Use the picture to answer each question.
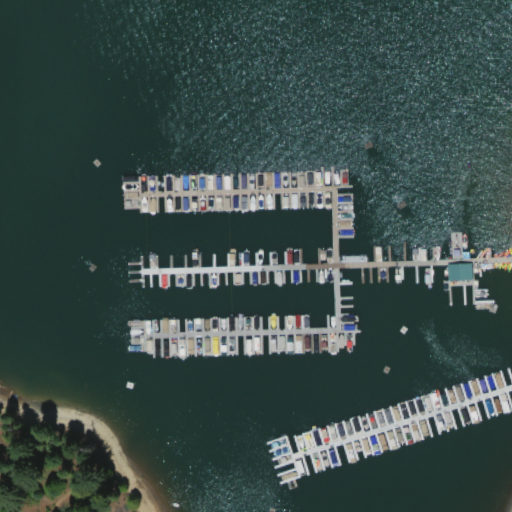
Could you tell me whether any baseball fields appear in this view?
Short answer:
No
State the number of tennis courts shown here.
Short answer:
0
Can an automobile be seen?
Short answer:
No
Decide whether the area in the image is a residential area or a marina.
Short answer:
marina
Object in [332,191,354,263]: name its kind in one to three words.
pier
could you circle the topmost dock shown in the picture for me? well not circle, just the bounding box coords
[124,166,354,213]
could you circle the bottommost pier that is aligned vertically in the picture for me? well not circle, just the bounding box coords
[334,268,358,328]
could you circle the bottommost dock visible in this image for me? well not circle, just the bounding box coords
[266,369,512,484]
